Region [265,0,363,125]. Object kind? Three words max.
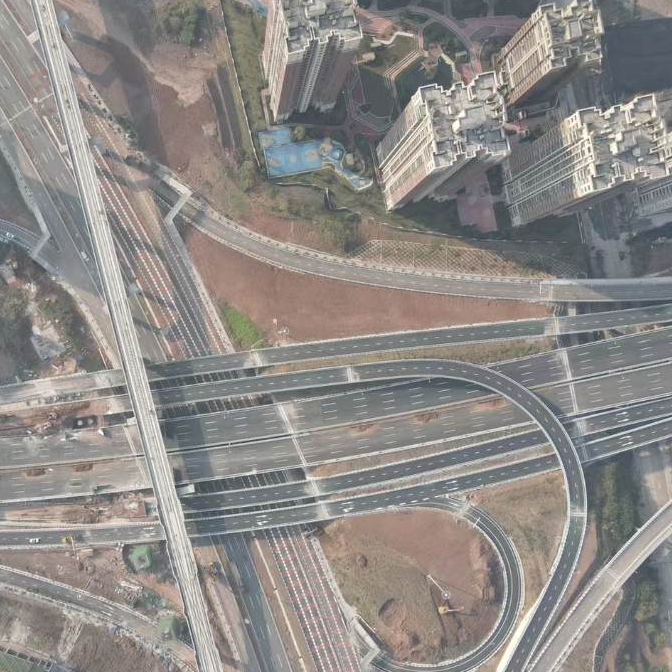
building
